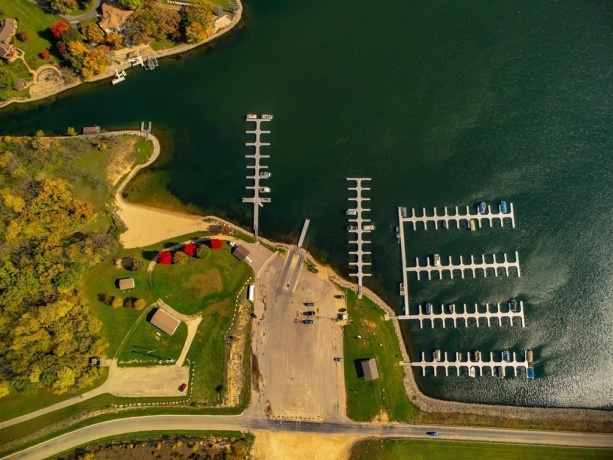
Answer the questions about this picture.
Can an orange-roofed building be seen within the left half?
Yes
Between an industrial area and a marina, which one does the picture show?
marina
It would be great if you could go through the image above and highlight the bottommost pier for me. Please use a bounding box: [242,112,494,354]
[399,351,530,377]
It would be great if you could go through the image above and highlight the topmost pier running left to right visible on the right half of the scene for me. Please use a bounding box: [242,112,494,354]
[402,203,517,231]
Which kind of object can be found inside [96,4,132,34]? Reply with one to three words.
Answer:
house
